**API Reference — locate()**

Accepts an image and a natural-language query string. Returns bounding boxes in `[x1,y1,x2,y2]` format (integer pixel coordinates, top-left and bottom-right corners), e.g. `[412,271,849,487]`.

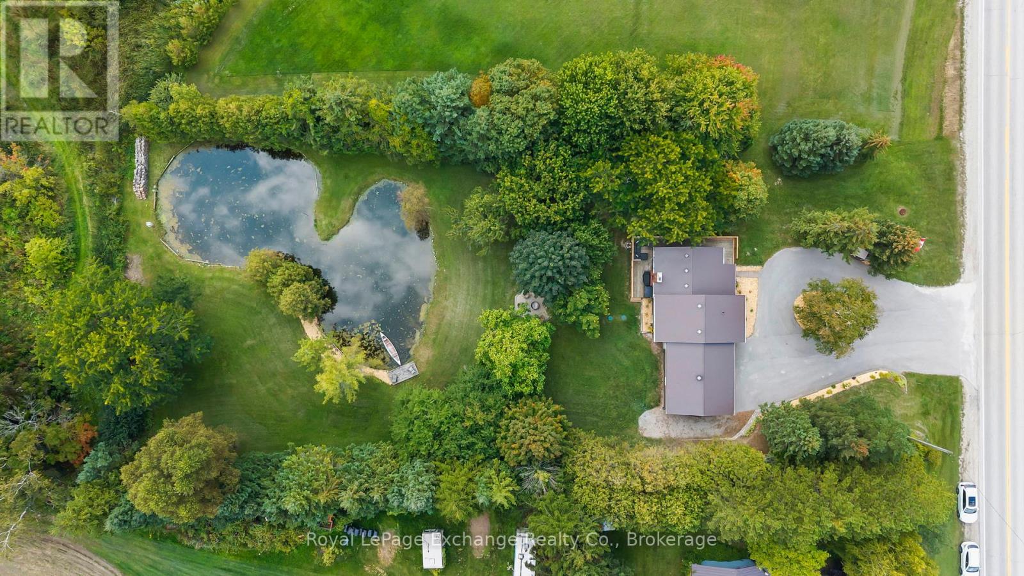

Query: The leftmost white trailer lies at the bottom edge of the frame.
[423,514,446,569]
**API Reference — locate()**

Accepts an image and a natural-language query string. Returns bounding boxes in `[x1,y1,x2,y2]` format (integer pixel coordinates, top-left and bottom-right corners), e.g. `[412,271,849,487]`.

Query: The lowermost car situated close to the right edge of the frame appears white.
[959,543,982,576]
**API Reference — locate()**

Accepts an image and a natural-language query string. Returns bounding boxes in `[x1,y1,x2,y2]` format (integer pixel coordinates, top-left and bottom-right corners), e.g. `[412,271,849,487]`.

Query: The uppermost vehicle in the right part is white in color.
[957,484,980,523]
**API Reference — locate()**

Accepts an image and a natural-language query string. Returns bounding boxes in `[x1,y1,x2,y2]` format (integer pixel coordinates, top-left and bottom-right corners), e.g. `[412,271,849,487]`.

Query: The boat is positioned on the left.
[380,331,401,366]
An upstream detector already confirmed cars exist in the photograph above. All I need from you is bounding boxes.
[957,484,980,523]
[959,543,982,576]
